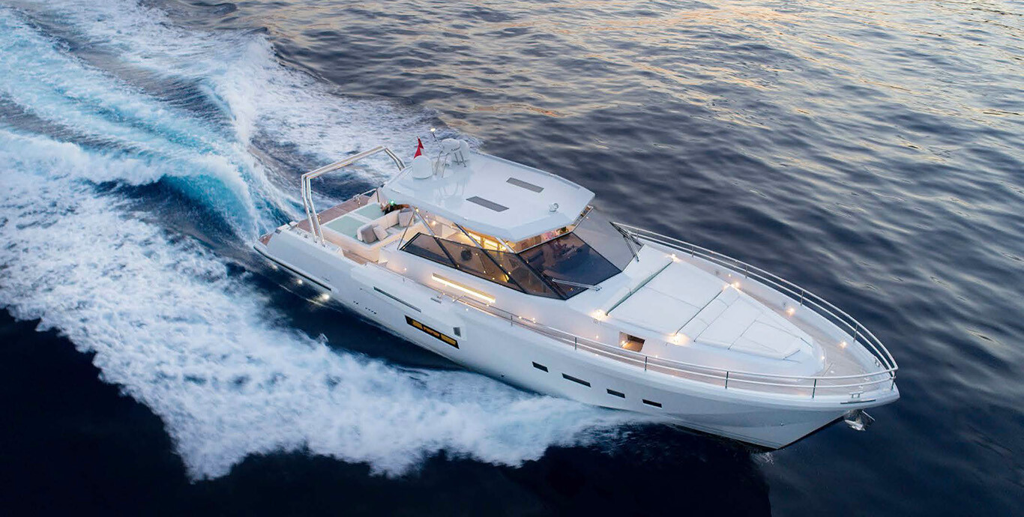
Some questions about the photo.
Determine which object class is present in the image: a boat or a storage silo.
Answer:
boat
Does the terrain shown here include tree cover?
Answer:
No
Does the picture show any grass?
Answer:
No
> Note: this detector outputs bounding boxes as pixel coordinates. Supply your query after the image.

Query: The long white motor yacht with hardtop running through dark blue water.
[256,127,902,453]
